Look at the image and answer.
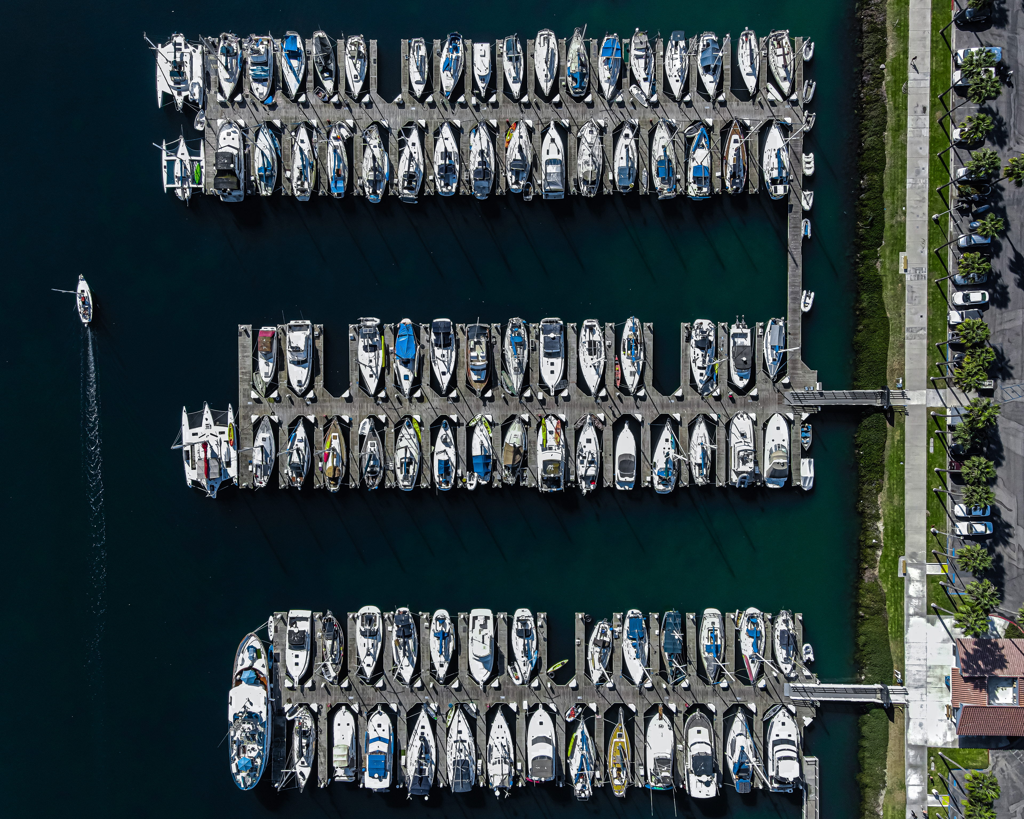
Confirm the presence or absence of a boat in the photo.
Yes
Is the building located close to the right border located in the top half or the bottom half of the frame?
bottom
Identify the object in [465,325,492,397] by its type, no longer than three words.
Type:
boat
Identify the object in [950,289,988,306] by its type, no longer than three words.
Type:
car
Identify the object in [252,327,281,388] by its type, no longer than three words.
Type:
boat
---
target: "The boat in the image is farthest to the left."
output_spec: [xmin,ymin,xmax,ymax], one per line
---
[50,273,95,327]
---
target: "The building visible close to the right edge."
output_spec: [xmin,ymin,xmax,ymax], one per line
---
[946,636,1024,736]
